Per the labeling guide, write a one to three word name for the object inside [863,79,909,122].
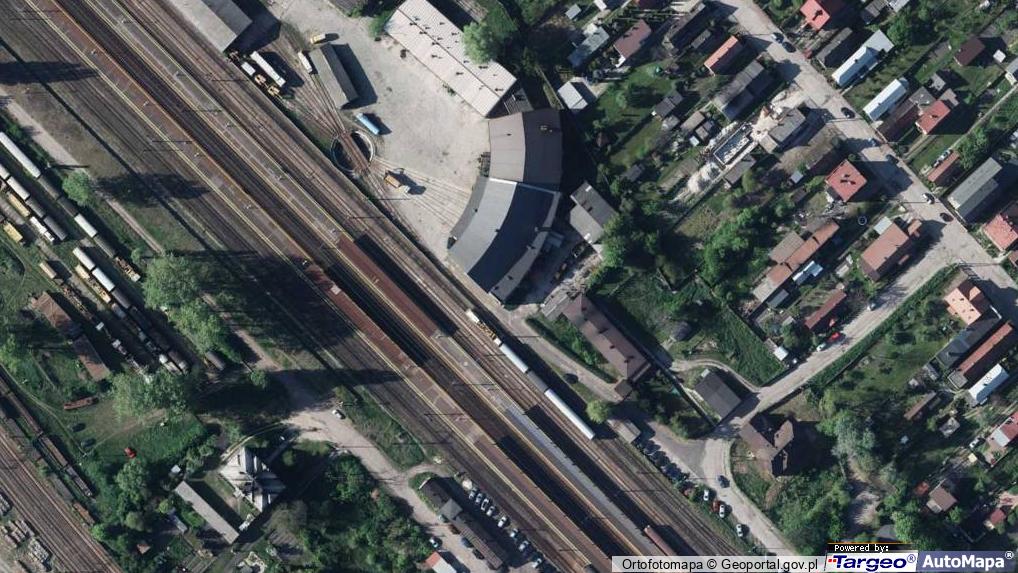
house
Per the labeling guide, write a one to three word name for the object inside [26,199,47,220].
rail car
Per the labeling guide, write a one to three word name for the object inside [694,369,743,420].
barn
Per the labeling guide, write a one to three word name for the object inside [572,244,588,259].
vehicle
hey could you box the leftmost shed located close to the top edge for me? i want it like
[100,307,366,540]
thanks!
[167,0,253,53]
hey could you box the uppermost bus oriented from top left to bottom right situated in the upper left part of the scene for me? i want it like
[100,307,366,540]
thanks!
[250,51,287,89]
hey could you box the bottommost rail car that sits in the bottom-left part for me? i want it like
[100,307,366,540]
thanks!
[71,501,96,526]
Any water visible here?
No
